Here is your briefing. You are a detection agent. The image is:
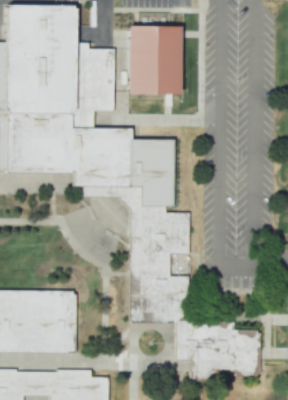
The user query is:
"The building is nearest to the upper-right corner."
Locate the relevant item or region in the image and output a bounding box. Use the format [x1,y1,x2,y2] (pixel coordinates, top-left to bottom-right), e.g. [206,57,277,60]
[131,25,184,94]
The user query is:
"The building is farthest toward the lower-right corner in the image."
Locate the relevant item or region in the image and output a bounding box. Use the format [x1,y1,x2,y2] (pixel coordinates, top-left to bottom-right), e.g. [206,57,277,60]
[178,322,260,378]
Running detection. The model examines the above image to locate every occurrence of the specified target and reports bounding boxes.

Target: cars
[226,196,236,206]
[263,196,270,206]
[240,5,250,15]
